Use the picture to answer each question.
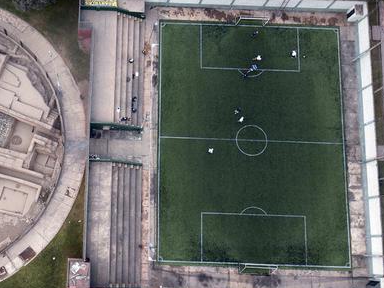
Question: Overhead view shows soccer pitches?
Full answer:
Yes, this view includes a soccer pitch.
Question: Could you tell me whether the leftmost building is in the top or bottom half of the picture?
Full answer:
The leftmost building is in the bottom half of the image.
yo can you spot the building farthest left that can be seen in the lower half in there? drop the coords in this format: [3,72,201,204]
[66,258,91,288]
